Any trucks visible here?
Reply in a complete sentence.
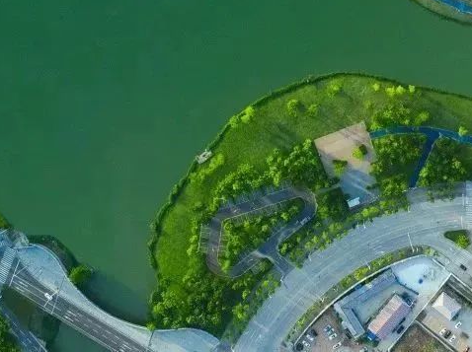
No, this view has no truck in it.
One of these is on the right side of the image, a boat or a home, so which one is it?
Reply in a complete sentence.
Looking on the right side of the image, you will find a home.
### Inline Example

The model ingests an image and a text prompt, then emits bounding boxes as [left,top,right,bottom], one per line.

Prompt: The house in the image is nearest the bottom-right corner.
[433,294,462,324]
